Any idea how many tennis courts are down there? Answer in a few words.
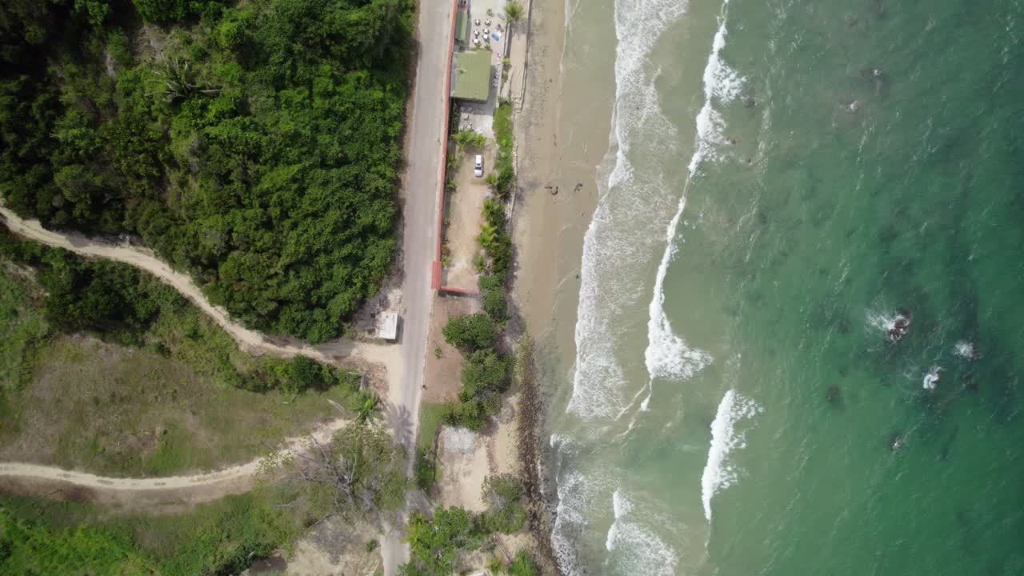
0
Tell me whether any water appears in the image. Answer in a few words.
Yes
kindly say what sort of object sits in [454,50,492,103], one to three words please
house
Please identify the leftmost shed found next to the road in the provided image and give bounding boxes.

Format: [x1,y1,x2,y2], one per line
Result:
[378,309,399,339]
